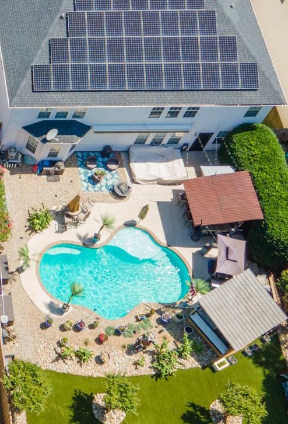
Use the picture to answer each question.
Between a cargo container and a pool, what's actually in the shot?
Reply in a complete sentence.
I can see a pool in this picture.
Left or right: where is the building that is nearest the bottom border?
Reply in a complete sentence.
It is on the right.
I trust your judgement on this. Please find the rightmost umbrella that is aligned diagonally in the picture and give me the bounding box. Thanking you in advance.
[133,201,155,227]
